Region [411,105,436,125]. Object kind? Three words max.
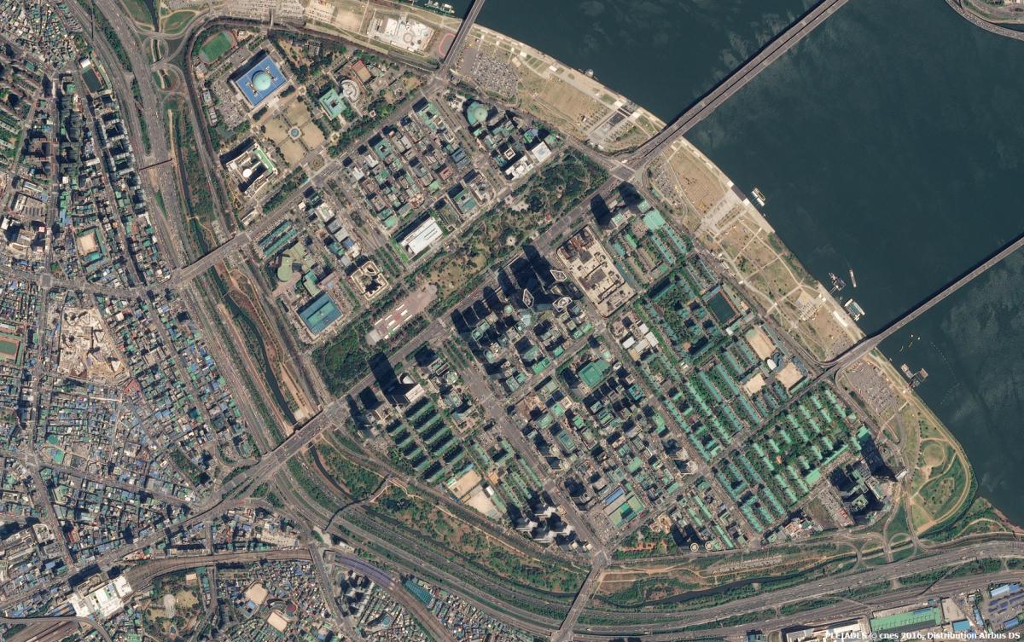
building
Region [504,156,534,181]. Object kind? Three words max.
building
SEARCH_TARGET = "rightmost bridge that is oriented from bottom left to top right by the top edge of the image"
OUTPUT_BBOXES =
[624,0,847,170]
